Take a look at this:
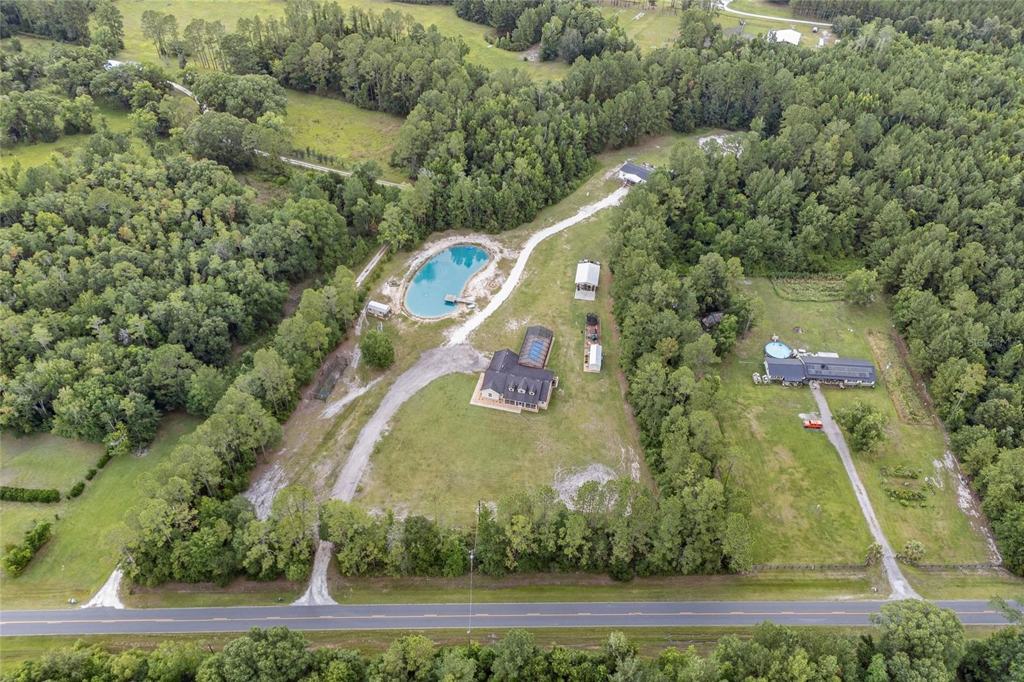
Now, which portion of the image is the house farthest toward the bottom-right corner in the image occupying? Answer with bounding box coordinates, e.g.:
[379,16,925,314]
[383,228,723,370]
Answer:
[762,355,880,388]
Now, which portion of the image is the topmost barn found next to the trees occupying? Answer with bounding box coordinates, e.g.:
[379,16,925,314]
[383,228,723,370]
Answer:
[763,28,801,46]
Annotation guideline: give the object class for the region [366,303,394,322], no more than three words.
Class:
building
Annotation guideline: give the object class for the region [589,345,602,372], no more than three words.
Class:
shed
